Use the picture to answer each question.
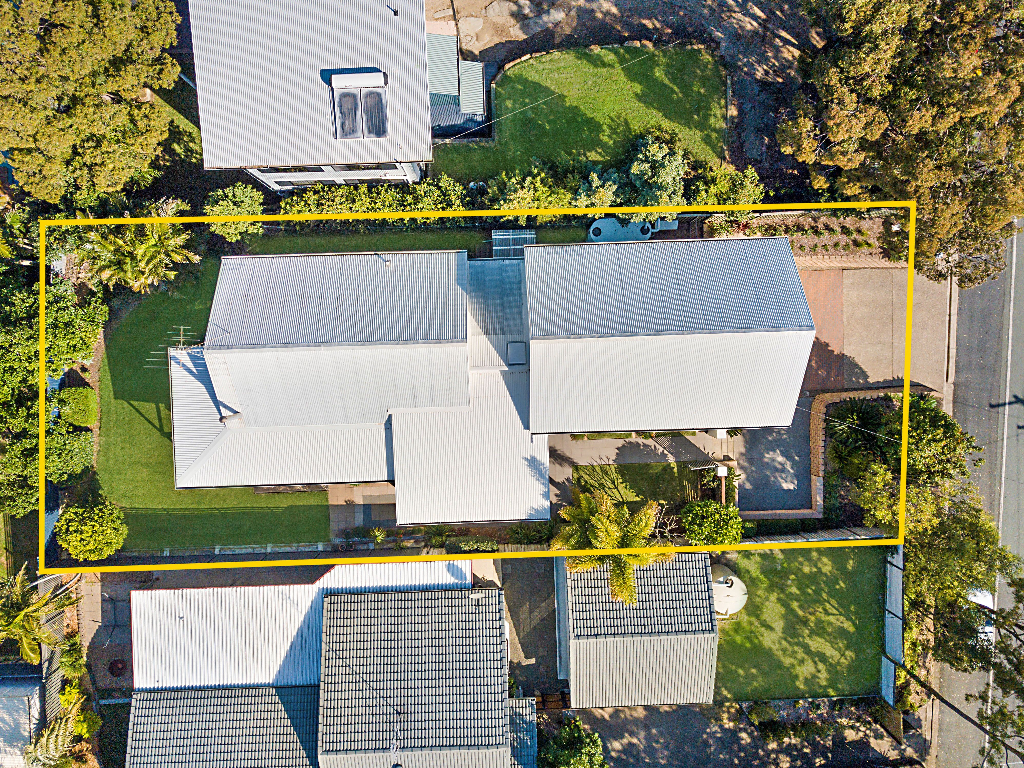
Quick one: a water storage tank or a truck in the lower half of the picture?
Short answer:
water storage tank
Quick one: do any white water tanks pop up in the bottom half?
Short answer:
Yes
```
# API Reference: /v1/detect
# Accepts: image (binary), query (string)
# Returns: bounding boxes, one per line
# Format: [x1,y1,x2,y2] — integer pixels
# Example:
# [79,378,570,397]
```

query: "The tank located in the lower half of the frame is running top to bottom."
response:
[710,553,746,620]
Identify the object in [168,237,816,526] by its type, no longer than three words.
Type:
house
